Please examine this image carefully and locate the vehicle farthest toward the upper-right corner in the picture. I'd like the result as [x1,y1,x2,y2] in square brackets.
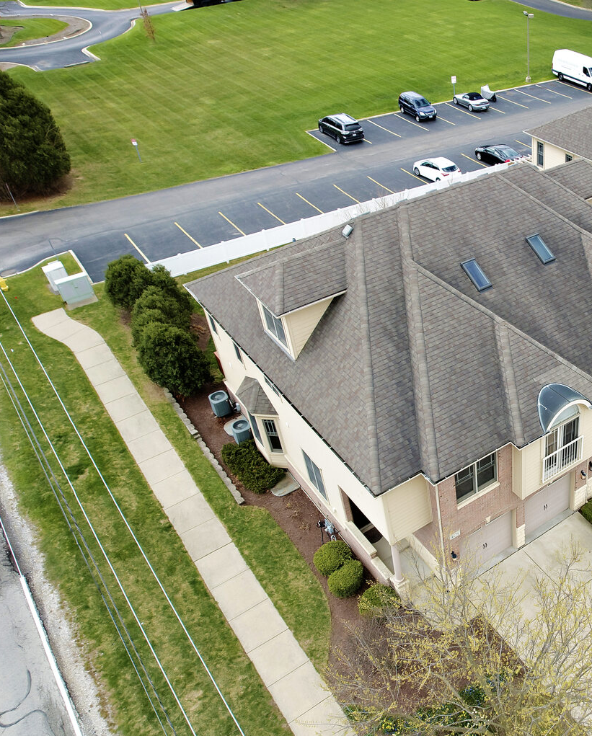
[552,49,592,90]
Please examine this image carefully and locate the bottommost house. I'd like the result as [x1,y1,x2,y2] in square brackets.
[181,155,592,595]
